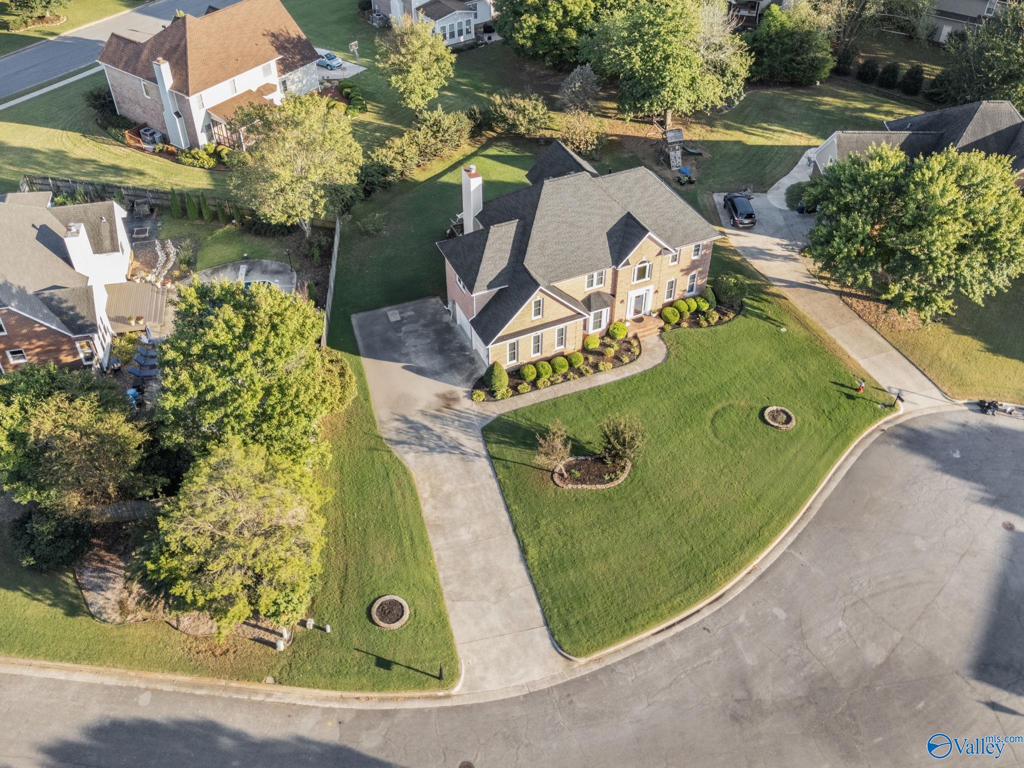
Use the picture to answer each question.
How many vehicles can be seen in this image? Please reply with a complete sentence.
The picture shows 2 vehicles.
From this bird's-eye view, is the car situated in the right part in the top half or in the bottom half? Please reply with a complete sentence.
You can find the car situated in the right part in the top half.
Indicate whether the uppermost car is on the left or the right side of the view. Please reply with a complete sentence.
The uppermost car appears in the left half of the scene.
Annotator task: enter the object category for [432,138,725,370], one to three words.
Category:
house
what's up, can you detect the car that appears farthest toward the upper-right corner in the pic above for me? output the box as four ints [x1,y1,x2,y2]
[720,190,757,227]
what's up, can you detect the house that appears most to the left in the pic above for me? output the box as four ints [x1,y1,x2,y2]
[0,193,133,375]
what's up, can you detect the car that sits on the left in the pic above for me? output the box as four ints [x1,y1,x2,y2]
[315,46,345,70]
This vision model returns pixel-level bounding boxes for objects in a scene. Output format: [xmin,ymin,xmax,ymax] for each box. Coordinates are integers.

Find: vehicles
[720,190,757,227]
[315,46,345,70]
